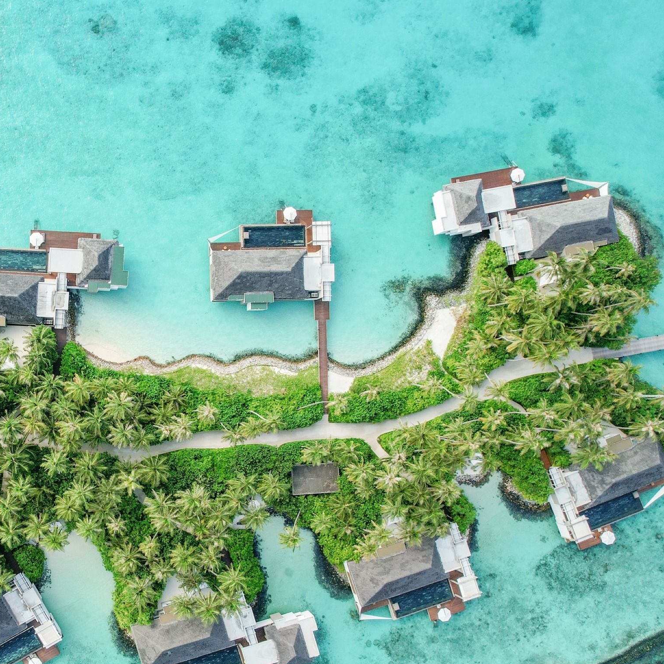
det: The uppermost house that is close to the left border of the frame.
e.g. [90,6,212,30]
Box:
[0,227,129,334]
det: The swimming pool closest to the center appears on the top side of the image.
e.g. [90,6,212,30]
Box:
[239,225,307,249]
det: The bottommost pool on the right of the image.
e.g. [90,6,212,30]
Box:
[386,579,457,622]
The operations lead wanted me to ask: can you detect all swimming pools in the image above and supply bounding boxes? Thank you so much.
[585,482,658,526]
[508,175,574,209]
[0,248,49,273]
[0,625,46,664]
[386,579,457,622]
[175,645,243,664]
[239,225,307,249]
